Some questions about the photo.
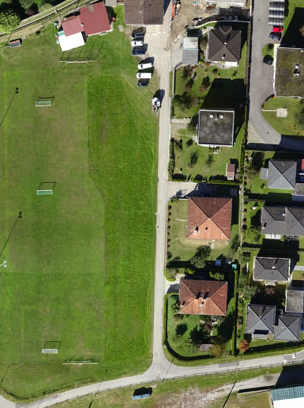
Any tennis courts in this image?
No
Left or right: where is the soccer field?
left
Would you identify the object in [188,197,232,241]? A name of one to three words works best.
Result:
house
